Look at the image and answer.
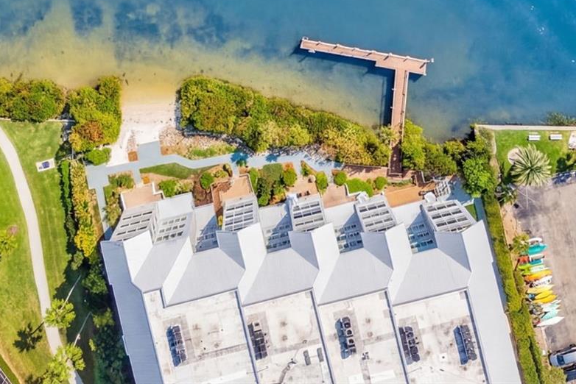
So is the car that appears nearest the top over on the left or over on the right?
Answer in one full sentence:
The car that appears nearest the top appears in the right half of the scene.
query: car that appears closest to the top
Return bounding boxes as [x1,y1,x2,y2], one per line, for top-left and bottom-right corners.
[548,345,576,367]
